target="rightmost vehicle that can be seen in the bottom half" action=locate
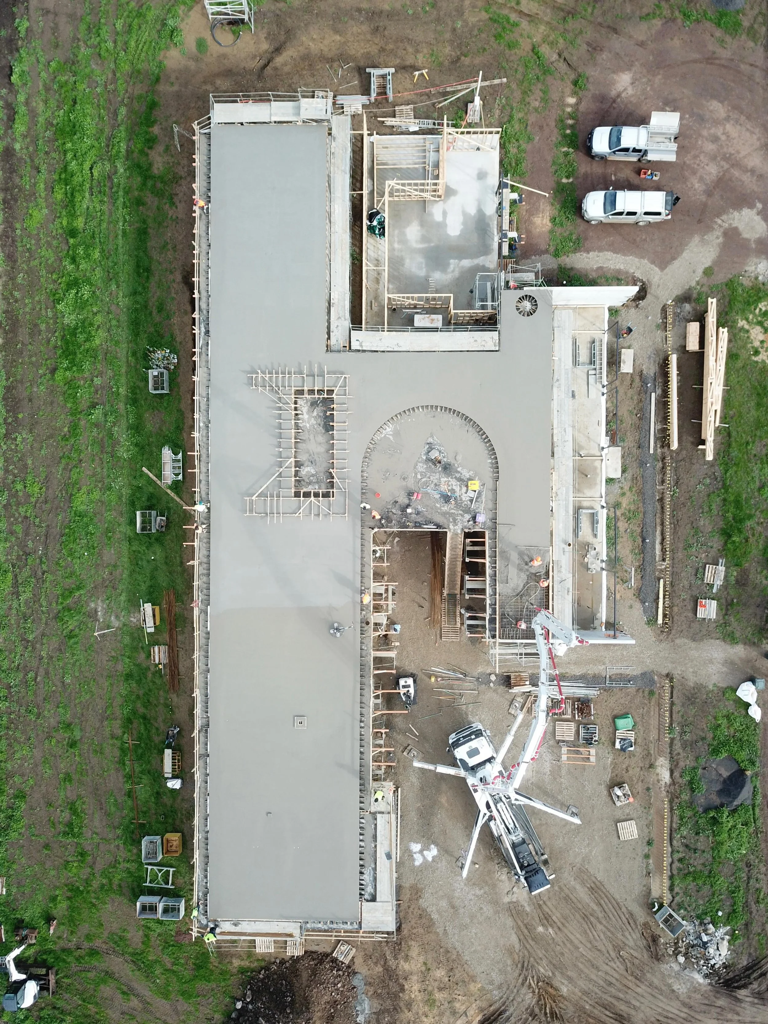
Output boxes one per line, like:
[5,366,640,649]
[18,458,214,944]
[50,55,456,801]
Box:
[411,600,590,895]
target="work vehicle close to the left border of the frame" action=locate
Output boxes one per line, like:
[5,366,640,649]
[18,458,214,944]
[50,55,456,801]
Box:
[2,935,57,1010]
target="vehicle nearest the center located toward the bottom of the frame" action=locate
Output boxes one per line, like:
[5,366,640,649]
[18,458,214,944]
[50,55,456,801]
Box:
[396,674,417,711]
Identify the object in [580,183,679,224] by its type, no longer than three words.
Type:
truck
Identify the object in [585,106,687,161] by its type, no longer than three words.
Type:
truck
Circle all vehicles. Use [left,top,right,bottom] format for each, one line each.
[396,674,417,711]
[580,183,679,224]
[2,935,57,1010]
[585,106,687,161]
[411,600,590,895]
